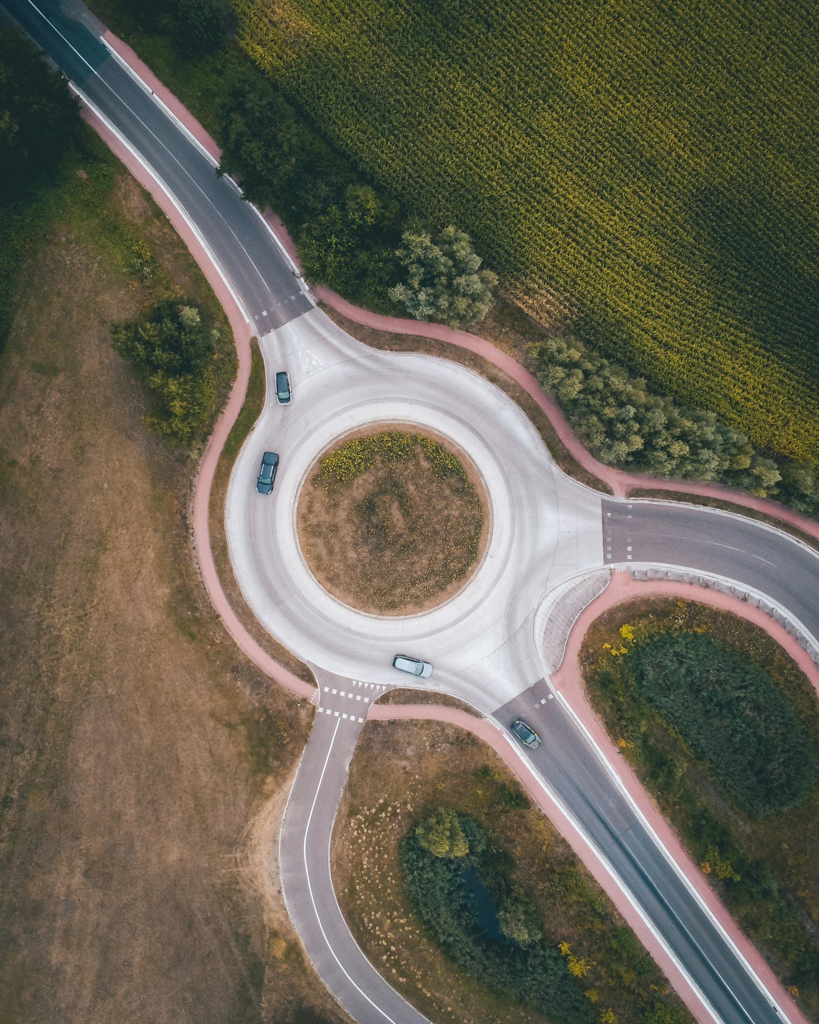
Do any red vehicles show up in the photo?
No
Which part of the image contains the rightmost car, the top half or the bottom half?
bottom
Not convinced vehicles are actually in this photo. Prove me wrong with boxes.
[510,718,541,750]
[273,370,292,406]
[255,451,278,495]
[392,653,433,678]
